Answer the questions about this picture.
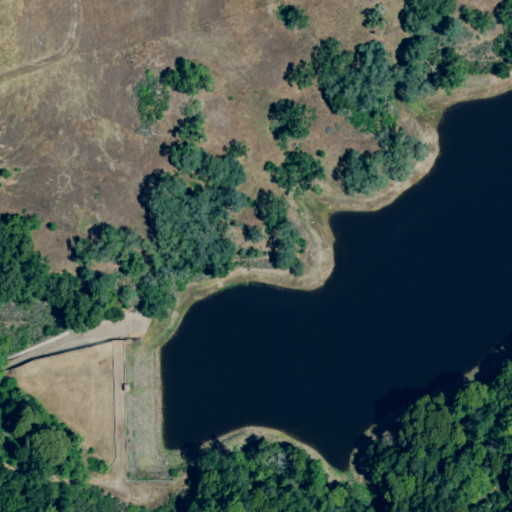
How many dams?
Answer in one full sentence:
Only 1 dam is visible.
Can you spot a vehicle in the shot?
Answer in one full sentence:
No, there appears to be no vehicle in this shot.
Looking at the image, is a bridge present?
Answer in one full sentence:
No, I find no bridge anywhere in the image.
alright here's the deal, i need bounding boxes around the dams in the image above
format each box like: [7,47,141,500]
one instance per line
[8,340,173,482]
